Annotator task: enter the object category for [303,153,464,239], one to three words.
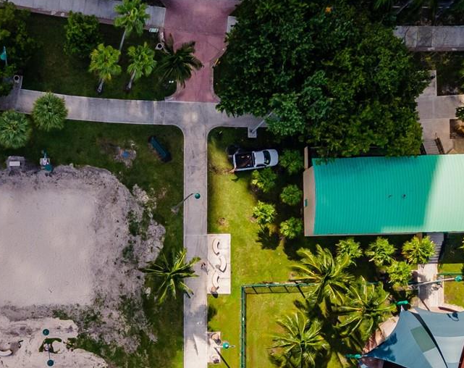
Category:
shed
